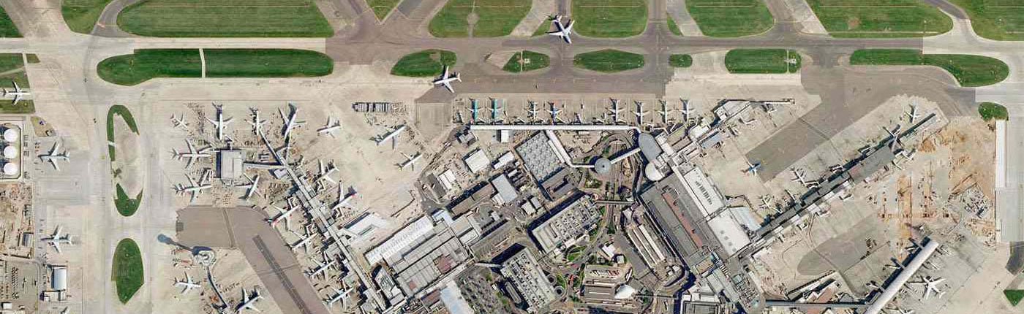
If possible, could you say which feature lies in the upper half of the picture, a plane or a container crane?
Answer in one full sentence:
The one visible in the upper half of the picture is a plane.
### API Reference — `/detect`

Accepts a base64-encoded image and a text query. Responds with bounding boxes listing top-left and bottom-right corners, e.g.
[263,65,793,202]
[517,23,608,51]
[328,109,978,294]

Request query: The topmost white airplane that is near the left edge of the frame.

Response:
[0,81,31,105]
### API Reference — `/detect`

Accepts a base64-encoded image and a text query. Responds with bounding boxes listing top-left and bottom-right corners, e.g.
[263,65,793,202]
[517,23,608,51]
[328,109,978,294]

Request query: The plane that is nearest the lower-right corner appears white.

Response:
[920,274,948,300]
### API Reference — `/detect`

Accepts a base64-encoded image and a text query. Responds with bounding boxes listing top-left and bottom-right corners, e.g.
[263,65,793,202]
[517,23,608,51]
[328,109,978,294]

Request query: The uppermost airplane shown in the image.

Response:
[550,14,576,44]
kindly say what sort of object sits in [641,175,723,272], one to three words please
building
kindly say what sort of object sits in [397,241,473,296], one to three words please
building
